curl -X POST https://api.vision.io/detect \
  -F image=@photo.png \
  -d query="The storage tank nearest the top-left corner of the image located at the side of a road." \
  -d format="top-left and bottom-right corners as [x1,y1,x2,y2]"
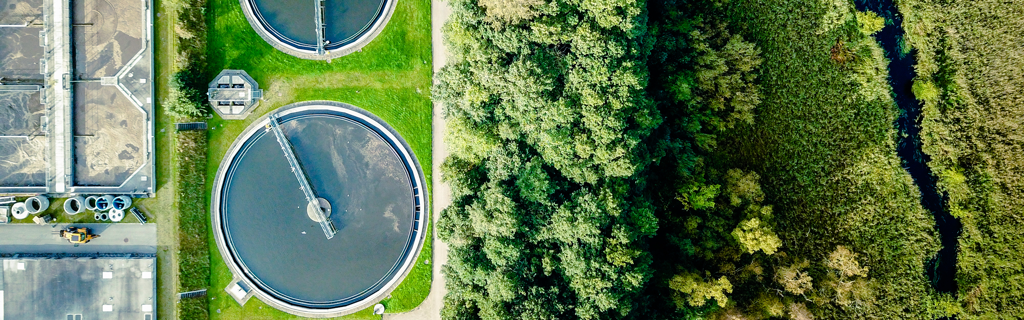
[0,0,162,195]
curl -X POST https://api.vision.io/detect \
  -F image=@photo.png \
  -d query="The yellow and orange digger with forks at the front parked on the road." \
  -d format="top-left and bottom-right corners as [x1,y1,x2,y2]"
[49,227,104,248]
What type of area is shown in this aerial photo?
industrial area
